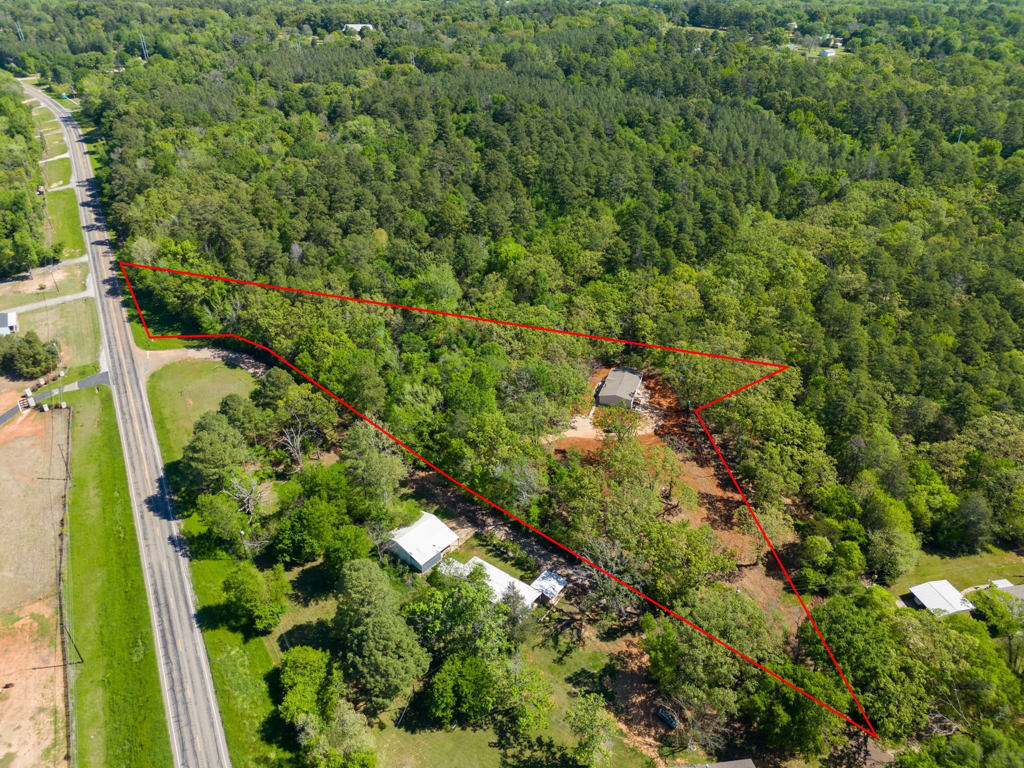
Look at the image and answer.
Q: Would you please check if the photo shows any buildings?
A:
Yes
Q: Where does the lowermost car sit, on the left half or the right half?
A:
right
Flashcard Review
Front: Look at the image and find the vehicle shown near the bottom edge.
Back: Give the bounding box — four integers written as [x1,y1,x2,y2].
[654,706,679,732]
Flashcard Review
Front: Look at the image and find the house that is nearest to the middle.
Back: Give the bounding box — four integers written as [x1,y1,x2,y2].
[597,367,645,411]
